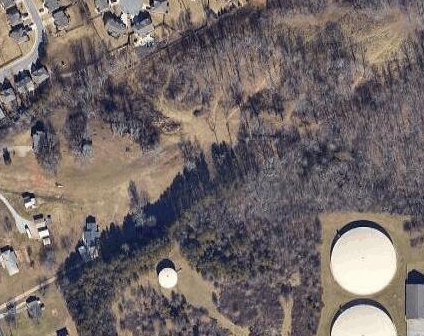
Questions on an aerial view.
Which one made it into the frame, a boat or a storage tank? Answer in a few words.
storage tank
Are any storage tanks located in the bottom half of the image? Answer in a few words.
Yes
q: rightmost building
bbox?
[406,284,424,319]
